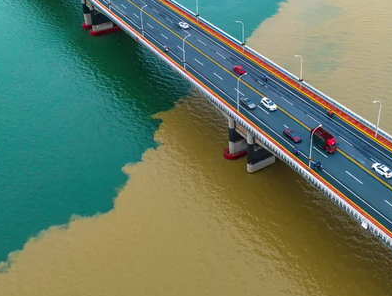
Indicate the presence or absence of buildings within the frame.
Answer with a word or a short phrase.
No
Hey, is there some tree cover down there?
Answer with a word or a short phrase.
No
